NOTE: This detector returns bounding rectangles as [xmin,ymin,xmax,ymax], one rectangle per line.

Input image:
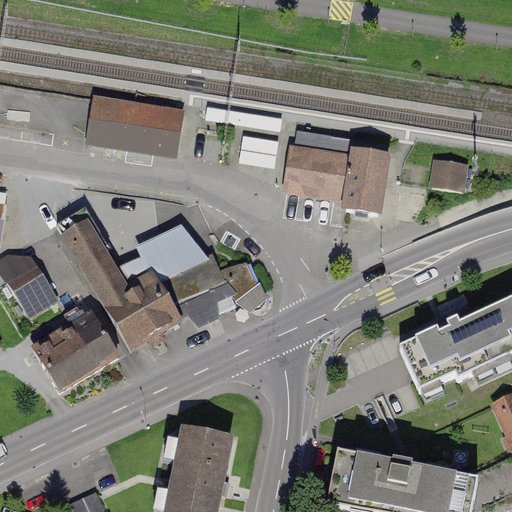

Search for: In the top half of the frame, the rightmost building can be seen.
[428,160,469,194]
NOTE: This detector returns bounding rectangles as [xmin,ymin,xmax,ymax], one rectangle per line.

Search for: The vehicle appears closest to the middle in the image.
[242,236,262,258]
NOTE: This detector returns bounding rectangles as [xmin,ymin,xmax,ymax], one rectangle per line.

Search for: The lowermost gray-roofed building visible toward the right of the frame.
[326,446,481,512]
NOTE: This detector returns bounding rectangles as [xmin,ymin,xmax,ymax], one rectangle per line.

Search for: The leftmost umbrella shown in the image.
[236,308,250,322]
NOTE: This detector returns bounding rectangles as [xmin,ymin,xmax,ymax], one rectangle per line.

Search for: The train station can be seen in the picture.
[282,130,391,222]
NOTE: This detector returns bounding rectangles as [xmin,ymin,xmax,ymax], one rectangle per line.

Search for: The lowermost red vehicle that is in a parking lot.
[24,494,48,510]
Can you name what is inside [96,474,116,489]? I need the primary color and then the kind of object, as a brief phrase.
blue car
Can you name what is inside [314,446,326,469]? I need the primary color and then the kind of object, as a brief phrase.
red vehicle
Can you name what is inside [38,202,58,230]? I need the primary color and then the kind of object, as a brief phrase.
white vehicle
